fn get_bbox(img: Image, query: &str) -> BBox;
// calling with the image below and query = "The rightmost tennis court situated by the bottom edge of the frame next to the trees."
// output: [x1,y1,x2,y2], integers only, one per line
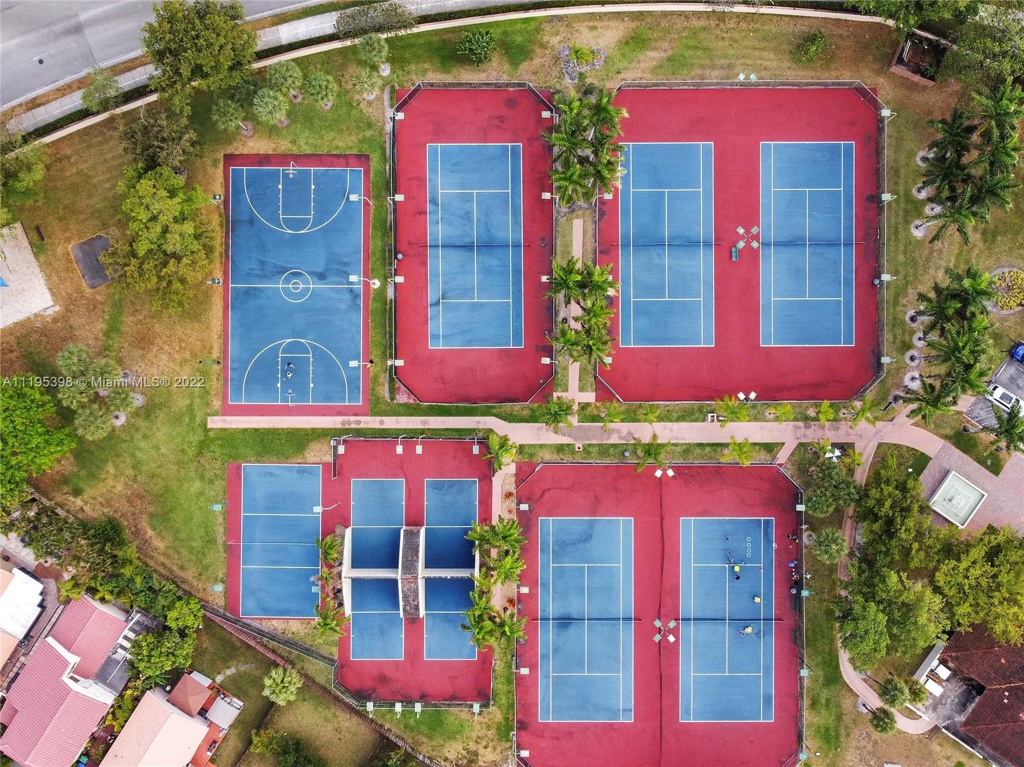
[661,461,799,767]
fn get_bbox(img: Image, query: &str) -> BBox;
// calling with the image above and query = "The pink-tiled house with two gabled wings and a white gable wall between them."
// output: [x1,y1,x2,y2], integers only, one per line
[0,593,136,767]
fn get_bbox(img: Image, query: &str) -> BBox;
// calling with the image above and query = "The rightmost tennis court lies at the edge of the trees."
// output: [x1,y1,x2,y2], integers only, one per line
[737,88,877,401]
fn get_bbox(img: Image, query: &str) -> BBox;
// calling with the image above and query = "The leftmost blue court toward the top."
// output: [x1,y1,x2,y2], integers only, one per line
[220,154,370,416]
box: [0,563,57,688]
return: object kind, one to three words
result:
house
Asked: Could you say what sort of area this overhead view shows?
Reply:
sports ground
